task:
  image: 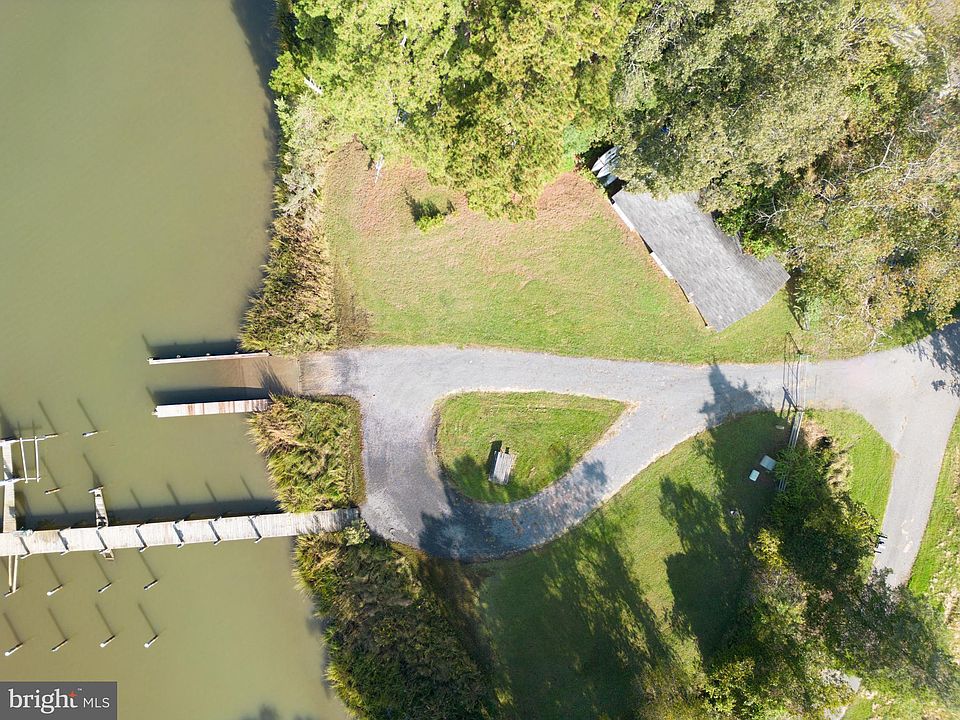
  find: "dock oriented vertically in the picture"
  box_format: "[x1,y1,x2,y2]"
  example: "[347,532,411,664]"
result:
[0,442,27,532]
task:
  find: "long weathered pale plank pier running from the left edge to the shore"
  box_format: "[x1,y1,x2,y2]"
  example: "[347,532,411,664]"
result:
[0,505,362,563]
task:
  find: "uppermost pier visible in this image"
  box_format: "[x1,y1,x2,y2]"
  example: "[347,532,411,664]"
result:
[147,398,273,418]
